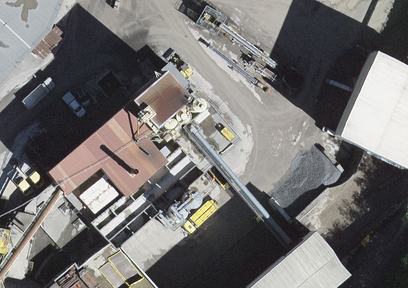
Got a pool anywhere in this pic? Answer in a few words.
No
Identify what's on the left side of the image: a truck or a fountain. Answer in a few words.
truck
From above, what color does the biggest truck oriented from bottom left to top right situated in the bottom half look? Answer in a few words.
yellow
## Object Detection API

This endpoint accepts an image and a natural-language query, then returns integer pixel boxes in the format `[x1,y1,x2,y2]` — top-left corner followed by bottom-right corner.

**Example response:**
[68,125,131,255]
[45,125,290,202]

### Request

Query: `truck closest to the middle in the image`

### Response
[215,120,240,146]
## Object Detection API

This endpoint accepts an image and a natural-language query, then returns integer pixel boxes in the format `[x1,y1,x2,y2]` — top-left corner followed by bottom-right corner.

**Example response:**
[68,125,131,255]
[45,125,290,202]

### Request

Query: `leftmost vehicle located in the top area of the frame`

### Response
[21,78,56,112]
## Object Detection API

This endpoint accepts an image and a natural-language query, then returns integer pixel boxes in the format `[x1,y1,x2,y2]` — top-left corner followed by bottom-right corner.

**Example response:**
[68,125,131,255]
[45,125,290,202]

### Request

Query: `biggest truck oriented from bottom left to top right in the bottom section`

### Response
[186,199,220,232]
